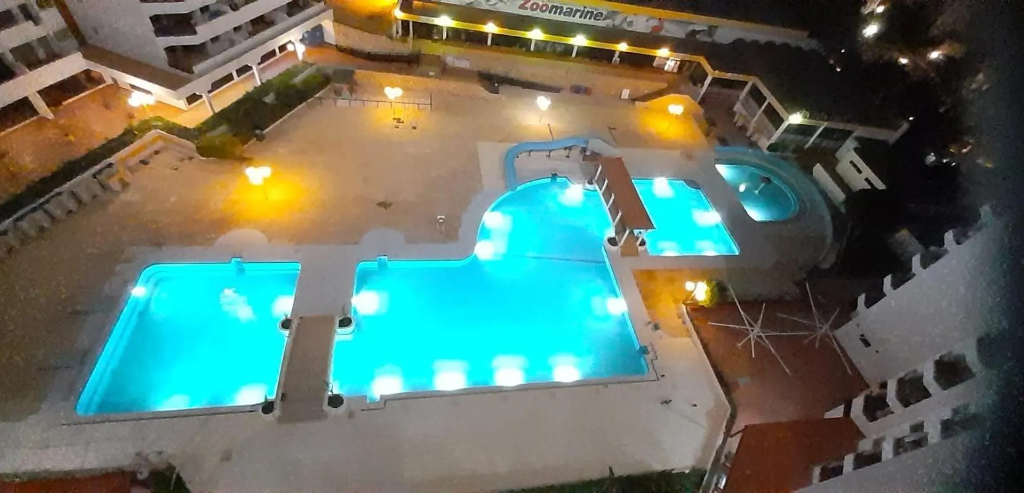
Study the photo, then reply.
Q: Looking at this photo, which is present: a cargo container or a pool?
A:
pool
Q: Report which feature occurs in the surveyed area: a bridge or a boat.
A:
bridge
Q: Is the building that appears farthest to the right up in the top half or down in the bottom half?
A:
bottom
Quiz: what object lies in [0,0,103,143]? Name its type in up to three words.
building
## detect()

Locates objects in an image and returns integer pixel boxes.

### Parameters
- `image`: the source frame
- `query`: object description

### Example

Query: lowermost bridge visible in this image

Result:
[273,313,343,425]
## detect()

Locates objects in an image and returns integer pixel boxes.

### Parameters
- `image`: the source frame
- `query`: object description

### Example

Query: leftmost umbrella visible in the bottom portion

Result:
[709,286,803,373]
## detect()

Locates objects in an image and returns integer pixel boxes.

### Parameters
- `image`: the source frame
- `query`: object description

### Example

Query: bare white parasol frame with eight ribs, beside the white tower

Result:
[777,288,872,376]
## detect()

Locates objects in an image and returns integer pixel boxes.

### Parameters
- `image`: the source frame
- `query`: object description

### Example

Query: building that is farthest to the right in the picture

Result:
[834,179,1024,493]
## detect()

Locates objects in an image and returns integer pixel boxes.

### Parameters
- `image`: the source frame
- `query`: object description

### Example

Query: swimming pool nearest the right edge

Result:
[711,161,802,224]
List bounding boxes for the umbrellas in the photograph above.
[709,286,803,373]
[777,288,872,376]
